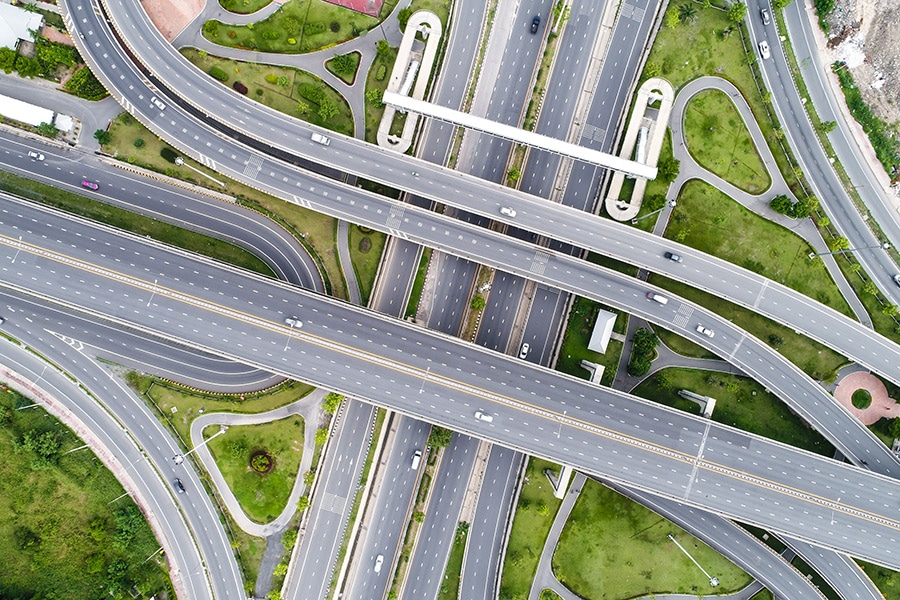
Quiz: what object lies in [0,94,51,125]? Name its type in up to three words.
shed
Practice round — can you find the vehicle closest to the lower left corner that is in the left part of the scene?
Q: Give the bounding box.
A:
[173,477,186,495]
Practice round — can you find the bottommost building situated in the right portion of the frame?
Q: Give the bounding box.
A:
[593,309,624,353]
